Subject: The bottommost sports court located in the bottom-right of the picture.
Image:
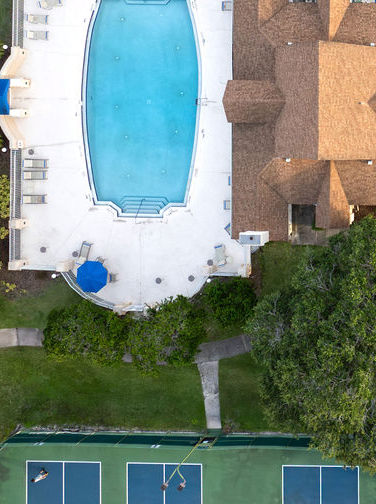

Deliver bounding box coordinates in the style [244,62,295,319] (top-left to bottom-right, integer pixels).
[282,465,359,504]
